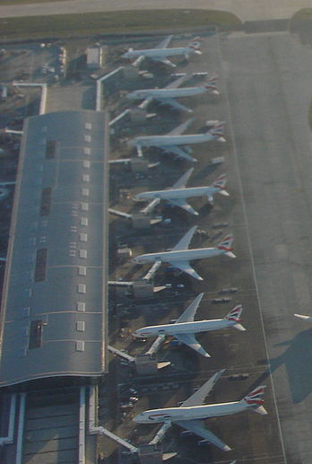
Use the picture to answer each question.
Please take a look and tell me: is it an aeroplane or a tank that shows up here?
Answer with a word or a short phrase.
aeroplane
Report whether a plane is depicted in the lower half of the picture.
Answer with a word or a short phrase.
Yes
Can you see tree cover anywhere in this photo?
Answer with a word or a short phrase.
No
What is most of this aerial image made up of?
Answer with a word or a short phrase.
paved ground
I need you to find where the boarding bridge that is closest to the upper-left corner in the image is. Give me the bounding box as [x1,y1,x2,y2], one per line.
[10,81,47,110]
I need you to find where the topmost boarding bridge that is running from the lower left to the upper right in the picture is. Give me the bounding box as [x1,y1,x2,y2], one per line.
[97,54,154,109]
